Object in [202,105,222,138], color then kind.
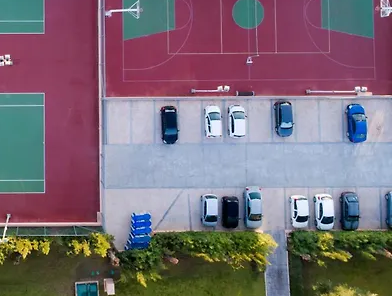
white car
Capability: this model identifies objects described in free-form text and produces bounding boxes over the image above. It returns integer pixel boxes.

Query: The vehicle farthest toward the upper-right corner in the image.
[343,104,367,144]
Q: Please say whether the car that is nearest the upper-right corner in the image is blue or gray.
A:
blue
